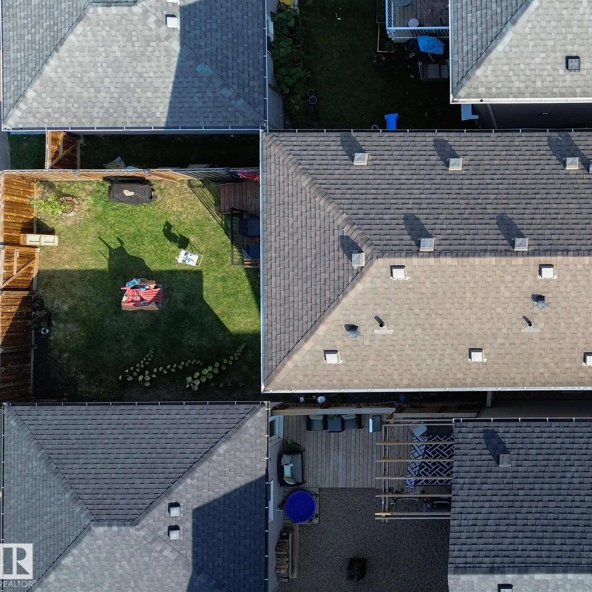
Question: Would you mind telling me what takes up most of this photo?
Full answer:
The scene is dominated by buildings.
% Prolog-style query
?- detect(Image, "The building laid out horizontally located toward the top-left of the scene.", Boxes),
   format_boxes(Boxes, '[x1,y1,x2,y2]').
[2,0,285,134]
